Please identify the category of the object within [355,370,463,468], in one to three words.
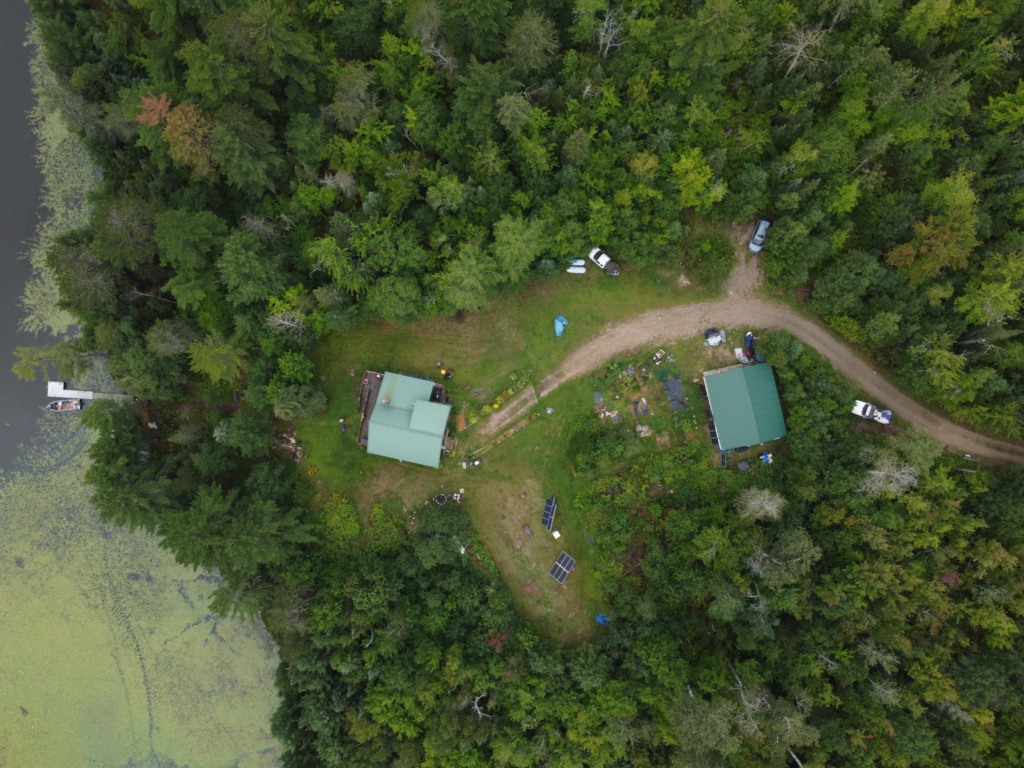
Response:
building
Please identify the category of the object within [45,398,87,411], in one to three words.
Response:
boat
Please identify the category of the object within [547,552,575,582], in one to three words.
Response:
solar array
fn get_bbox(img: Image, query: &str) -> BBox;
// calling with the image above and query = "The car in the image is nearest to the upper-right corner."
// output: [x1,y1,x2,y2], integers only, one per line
[746,218,772,255]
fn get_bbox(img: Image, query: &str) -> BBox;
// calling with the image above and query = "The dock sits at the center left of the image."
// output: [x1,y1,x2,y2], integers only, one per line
[45,382,136,403]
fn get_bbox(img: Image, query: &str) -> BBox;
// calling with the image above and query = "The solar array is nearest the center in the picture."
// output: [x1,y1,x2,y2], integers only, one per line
[541,497,556,530]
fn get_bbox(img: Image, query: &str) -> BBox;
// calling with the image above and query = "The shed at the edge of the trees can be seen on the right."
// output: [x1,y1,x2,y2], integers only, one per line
[696,362,786,450]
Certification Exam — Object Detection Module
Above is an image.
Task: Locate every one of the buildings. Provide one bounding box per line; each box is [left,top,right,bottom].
[355,370,463,468]
[696,362,786,450]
